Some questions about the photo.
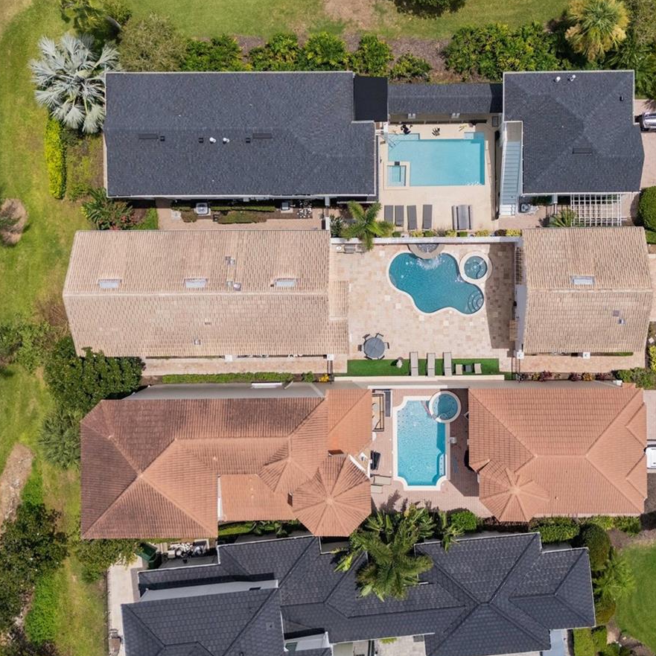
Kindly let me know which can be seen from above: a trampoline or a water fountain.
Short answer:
water fountain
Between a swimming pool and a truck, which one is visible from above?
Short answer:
swimming pool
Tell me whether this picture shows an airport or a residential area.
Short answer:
residential area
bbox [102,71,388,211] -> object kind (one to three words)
house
